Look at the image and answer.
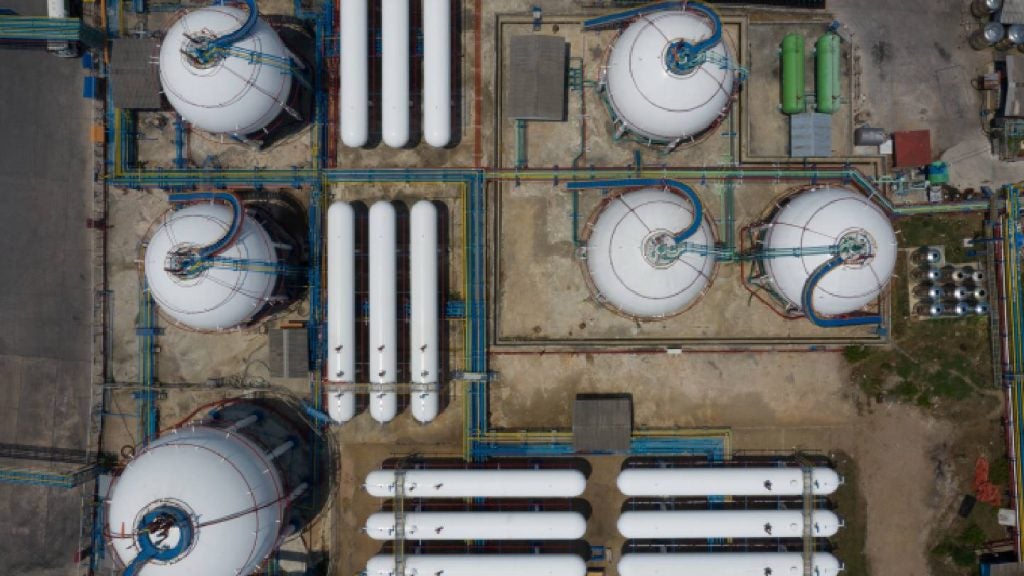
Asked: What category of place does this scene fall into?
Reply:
industrial area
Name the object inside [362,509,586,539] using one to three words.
storage tank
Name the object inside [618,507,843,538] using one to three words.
storage tank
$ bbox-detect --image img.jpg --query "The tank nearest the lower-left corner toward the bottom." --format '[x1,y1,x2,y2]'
[106,410,309,576]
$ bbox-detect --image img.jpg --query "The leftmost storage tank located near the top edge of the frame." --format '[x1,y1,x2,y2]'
[155,0,317,149]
